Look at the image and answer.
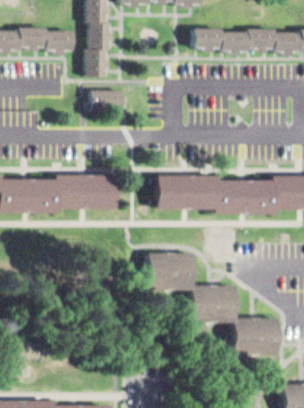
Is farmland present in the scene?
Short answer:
No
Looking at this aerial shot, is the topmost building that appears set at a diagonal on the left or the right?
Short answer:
right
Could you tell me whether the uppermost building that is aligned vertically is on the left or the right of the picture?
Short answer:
left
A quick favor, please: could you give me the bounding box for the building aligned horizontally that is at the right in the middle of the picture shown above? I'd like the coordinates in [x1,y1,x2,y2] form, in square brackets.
[152,174,304,214]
